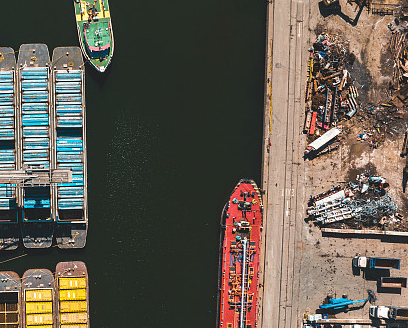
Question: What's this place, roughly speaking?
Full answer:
The picture captures a port.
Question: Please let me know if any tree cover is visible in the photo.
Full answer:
No, tree cover can't be seen anywhere here.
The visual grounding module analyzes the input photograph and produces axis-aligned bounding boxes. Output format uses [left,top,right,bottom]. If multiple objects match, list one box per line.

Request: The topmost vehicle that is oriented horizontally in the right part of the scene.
[349,255,403,270]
